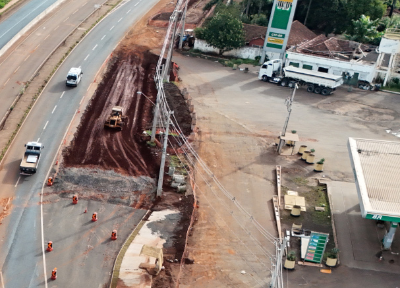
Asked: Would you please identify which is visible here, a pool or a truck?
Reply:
truck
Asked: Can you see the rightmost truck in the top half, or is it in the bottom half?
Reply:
top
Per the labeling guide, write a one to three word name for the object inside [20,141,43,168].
truck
